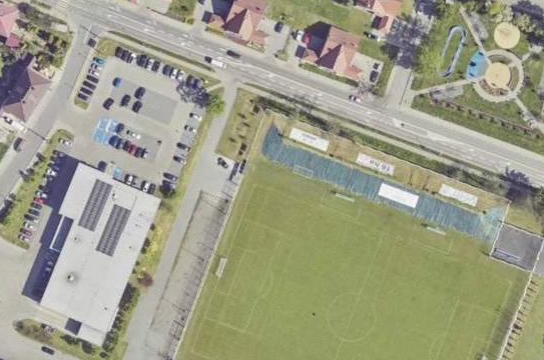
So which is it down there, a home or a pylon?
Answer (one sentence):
It is a home that can be seen here.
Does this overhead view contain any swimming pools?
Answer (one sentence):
No, the photo shows no swimming pool.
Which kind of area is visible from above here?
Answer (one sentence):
The picture captures a sports ground.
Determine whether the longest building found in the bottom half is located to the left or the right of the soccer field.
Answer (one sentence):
Compared with the soccer field, the longest building found in the bottom half is located further to the left.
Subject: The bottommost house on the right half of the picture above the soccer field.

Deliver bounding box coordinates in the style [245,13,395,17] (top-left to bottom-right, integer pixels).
[299,22,364,78]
